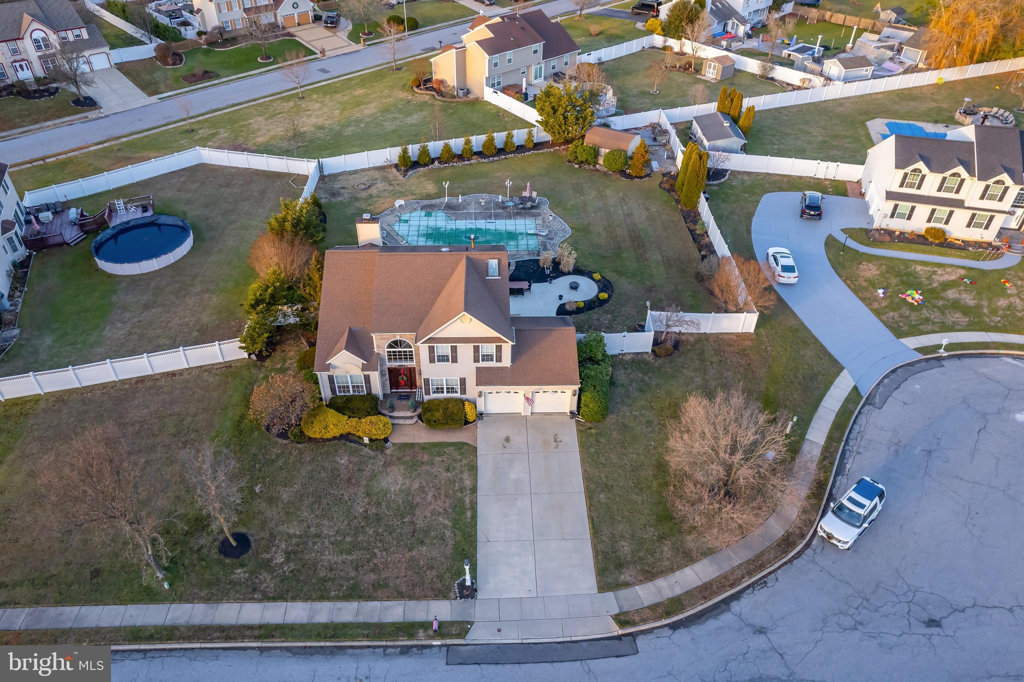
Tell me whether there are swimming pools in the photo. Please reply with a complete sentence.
Yes, I can see a swimming pool in this picture.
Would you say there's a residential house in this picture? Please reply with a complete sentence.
Yes, a residential house appears in the view.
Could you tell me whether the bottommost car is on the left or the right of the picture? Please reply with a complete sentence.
The bottommost car is on the right side of the image.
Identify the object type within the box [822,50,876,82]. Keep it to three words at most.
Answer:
shed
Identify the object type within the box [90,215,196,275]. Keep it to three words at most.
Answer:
swimming pool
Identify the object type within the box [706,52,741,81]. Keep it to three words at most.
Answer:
shed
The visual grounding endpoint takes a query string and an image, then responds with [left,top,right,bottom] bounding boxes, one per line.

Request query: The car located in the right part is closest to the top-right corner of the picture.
[801,187,827,215]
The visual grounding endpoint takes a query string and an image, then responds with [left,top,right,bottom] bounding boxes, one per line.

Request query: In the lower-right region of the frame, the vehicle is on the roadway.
[819,468,888,549]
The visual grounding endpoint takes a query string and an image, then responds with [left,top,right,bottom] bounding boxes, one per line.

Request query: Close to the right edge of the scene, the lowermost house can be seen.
[863,126,1024,251]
